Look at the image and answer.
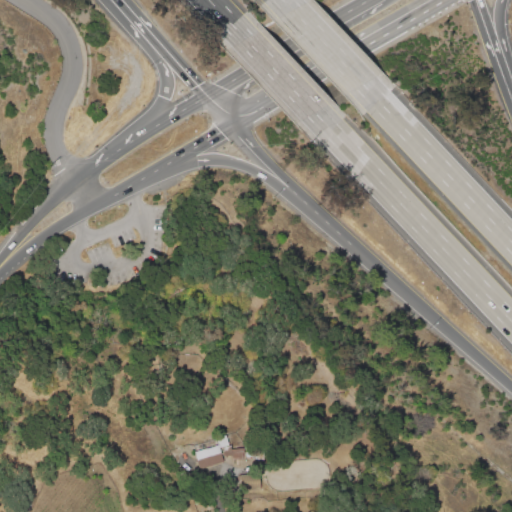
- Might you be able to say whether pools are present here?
No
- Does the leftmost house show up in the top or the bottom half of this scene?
bottom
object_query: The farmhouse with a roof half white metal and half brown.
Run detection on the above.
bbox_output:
[195,446,224,468]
